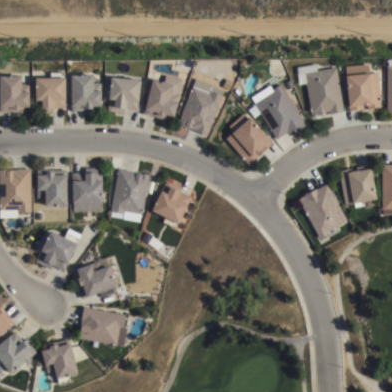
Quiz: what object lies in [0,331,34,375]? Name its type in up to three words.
house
